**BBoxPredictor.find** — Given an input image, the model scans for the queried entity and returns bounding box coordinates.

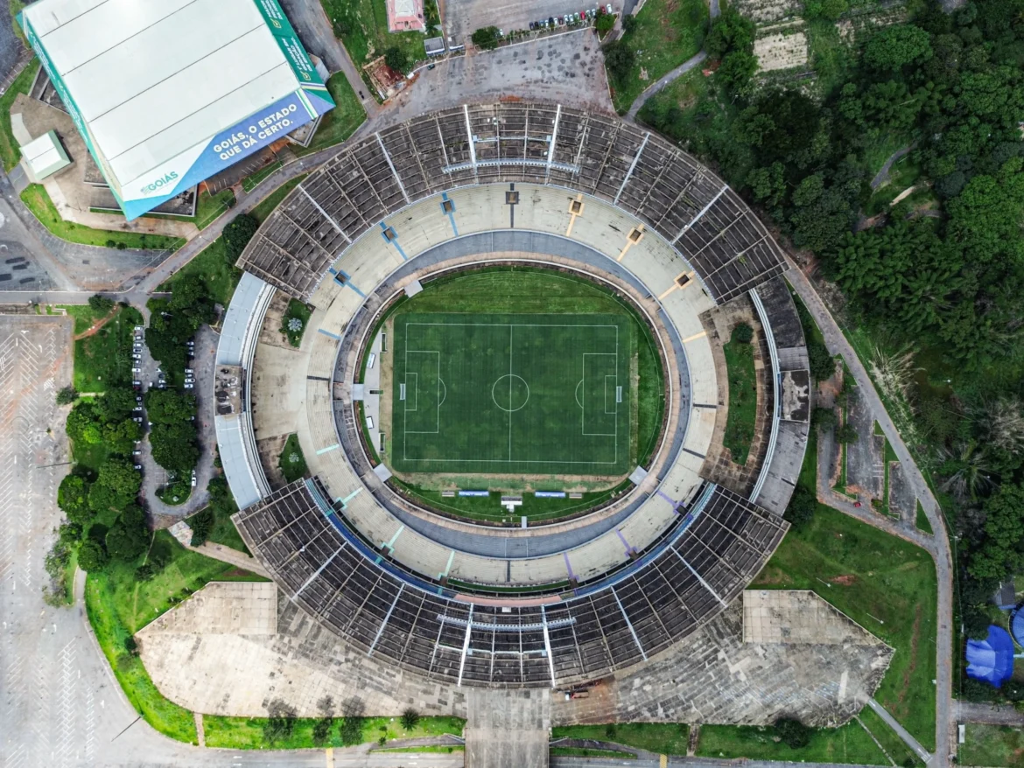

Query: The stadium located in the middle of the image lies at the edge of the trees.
[214,101,811,692]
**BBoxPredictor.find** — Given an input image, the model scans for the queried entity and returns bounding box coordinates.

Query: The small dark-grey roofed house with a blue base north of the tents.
[991,580,1016,610]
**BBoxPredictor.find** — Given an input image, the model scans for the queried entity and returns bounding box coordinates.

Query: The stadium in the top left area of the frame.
[16,0,336,220]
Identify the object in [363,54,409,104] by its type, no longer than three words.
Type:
building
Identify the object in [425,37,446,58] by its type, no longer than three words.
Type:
building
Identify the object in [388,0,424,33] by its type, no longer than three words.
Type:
house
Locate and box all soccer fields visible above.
[355,261,671,526]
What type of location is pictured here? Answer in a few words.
sports ground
